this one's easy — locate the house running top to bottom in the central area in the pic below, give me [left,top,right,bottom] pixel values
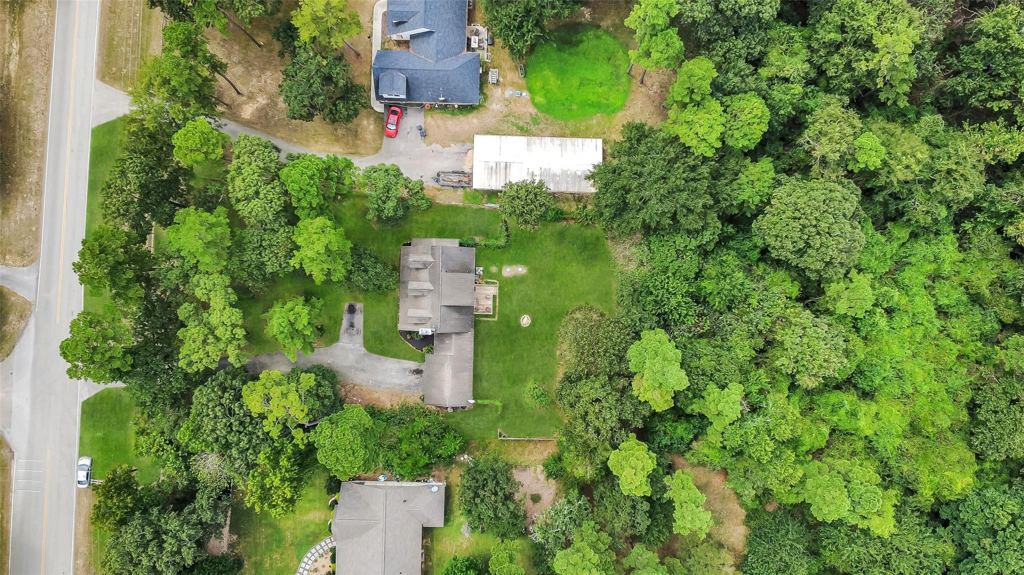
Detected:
[398,238,476,407]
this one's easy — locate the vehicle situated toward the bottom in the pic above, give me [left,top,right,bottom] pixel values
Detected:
[73,457,91,489]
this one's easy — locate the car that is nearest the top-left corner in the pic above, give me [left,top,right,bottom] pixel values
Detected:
[383,103,402,137]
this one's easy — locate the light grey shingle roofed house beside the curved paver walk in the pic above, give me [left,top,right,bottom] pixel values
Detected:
[333,479,447,575]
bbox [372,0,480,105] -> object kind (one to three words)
house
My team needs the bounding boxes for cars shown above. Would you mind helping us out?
[73,457,91,489]
[383,103,402,137]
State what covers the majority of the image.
trees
